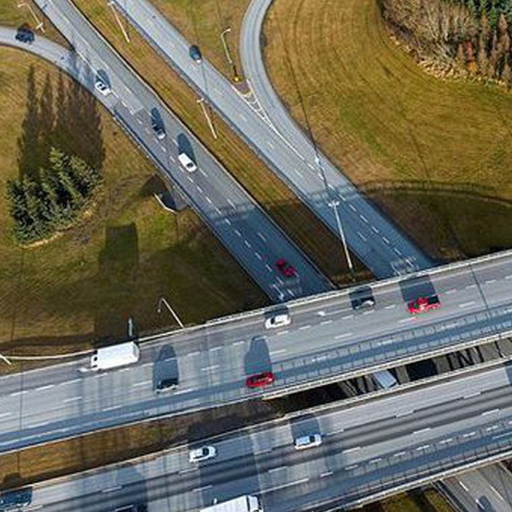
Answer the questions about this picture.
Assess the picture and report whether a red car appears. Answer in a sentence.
Yes, there is a red car in the image.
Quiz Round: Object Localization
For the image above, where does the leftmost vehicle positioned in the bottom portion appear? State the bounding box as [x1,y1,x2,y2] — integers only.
[0,489,33,510]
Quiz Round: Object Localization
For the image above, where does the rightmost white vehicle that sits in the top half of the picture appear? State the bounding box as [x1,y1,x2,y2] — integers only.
[177,152,195,169]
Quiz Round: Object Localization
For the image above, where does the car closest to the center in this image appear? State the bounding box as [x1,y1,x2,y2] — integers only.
[276,259,296,278]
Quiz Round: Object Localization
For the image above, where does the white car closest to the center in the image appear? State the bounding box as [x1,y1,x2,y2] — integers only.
[264,312,292,328]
